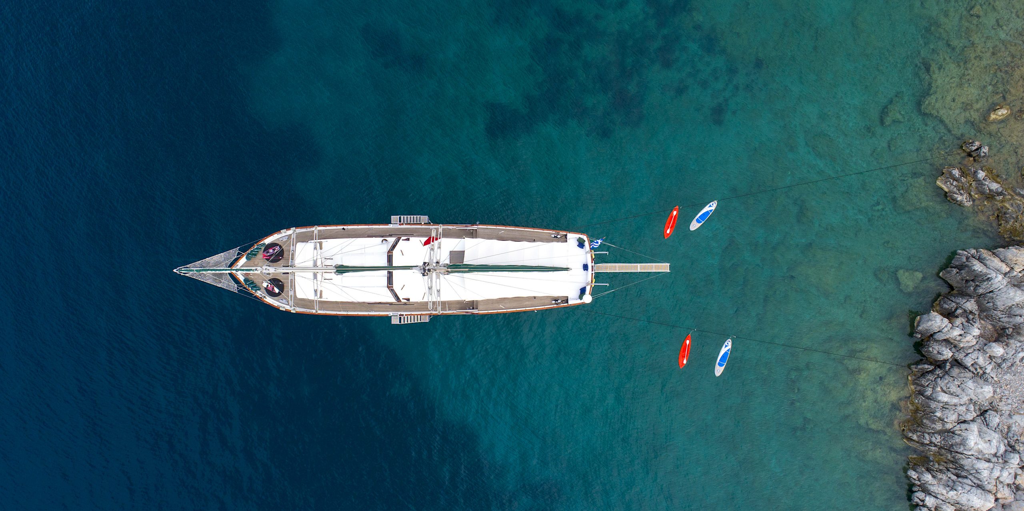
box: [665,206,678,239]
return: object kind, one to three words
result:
boat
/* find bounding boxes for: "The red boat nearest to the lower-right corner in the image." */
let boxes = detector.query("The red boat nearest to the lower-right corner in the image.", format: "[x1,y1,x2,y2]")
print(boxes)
[679,330,694,369]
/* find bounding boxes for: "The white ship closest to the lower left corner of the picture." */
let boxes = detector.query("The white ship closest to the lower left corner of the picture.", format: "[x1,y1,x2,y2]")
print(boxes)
[173,216,670,324]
